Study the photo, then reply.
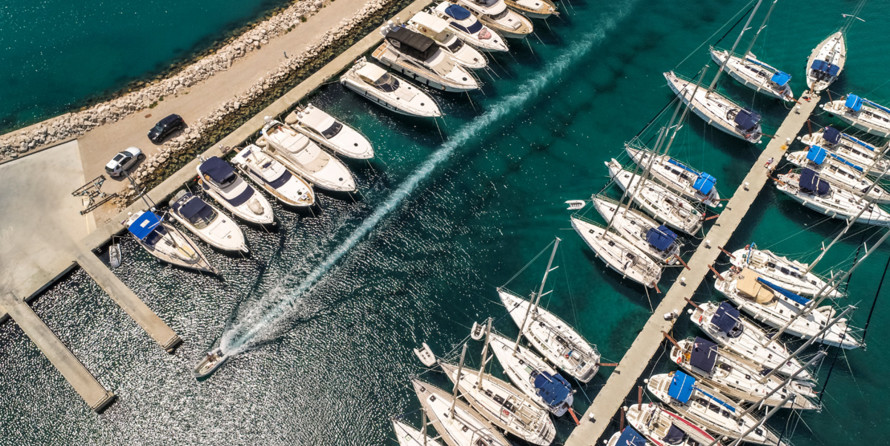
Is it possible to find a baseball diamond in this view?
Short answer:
No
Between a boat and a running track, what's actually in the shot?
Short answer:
boat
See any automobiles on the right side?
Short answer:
No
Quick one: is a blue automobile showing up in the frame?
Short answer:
No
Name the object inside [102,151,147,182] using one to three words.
car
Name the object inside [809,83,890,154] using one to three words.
boat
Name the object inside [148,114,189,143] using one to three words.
car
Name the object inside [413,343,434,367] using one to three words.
boat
